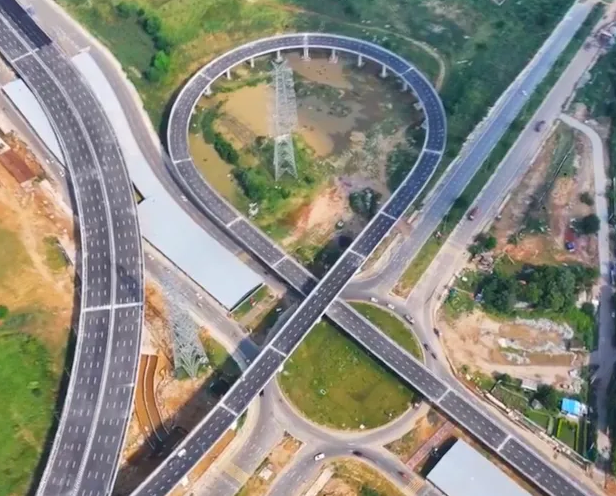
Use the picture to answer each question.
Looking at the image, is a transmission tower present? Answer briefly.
Yes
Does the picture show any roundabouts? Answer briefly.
Yes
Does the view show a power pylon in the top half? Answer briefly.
Yes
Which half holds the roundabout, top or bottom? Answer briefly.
bottom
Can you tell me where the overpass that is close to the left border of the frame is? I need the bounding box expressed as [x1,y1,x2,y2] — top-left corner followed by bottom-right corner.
[0,0,143,496]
